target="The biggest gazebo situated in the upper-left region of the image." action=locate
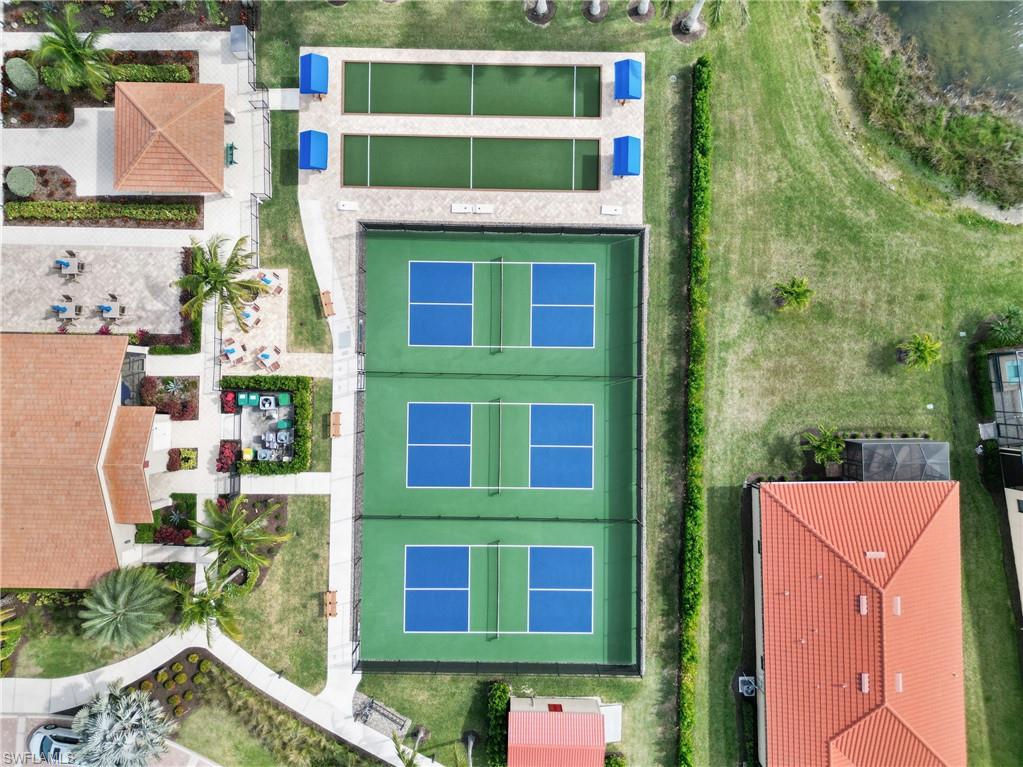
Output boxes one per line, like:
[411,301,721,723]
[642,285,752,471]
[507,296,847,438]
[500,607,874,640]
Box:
[112,81,240,204]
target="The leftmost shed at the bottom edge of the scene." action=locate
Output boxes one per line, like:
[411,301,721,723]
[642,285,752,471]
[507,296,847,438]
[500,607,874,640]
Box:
[508,698,605,766]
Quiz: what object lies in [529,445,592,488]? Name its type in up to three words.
sports court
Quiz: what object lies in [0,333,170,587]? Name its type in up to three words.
building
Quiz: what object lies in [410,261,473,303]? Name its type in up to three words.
sports court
